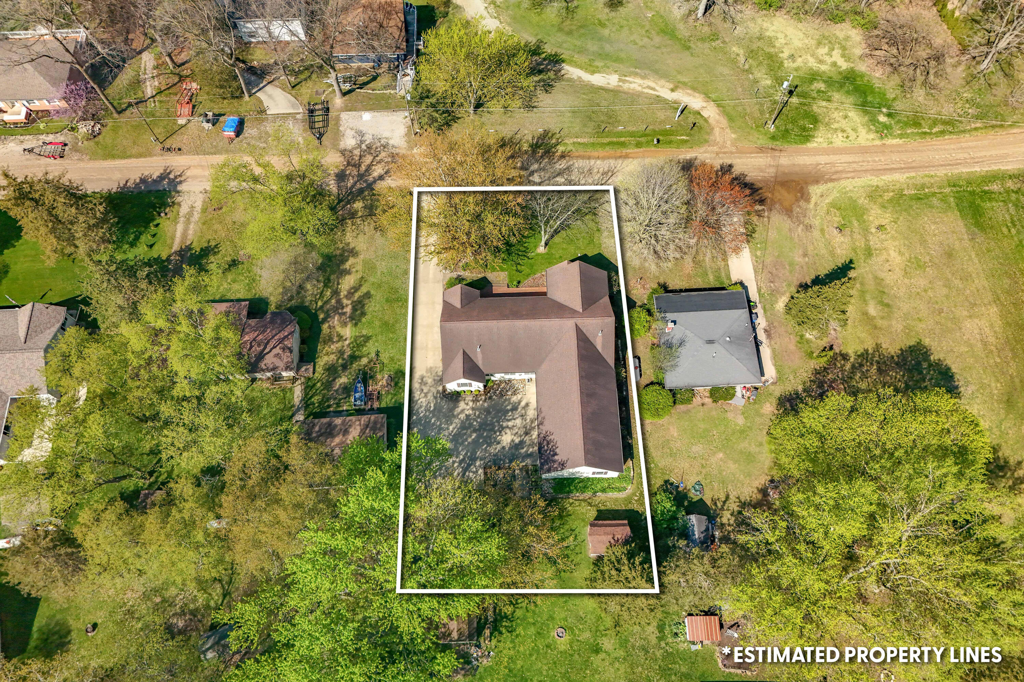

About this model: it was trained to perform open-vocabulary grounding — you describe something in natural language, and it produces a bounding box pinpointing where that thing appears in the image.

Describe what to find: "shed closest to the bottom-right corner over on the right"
[683,617,721,641]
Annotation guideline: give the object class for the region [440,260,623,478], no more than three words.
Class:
house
